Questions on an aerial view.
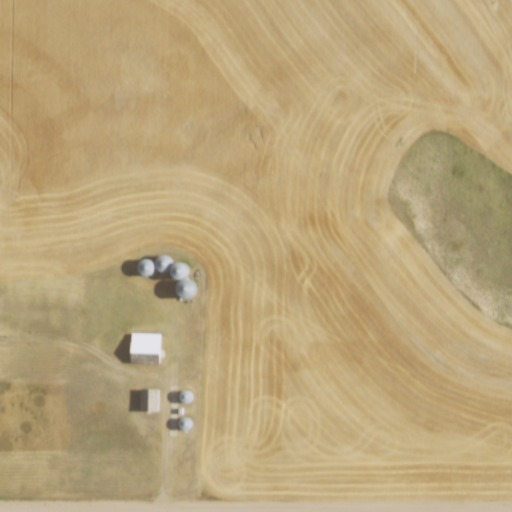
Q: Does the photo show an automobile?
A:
No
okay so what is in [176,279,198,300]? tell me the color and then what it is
white silo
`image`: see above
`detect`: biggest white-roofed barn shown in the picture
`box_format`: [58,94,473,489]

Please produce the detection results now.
[130,333,160,364]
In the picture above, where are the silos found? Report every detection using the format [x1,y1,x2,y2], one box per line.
[179,416,194,434]
[180,390,196,404]
[176,279,198,300]
[138,259,156,276]
[155,255,174,272]
[170,262,190,280]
